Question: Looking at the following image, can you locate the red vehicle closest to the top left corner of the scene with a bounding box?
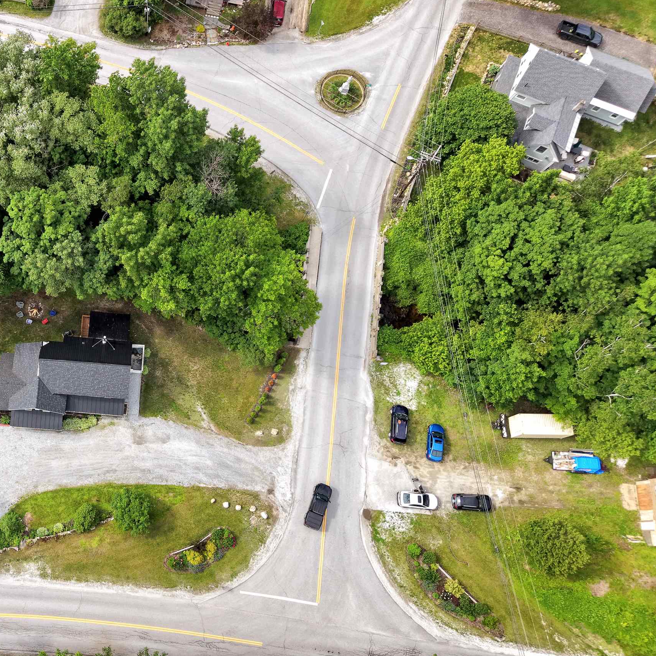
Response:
[271,0,286,22]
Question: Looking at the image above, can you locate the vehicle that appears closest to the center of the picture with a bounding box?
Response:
[388,406,410,445]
